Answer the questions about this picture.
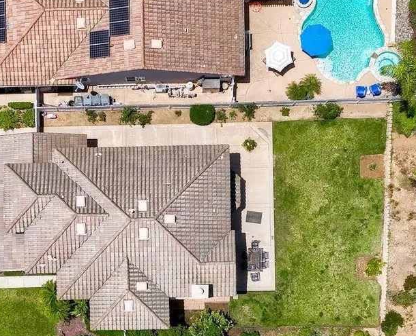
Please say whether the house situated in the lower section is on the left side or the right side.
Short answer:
left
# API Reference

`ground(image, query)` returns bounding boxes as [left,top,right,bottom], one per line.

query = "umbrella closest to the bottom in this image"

[265,43,291,73]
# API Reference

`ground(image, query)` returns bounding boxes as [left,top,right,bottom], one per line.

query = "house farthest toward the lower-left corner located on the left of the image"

[0,132,241,332]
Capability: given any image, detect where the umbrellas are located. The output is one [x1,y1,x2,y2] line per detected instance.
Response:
[300,26,332,59]
[265,43,291,73]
